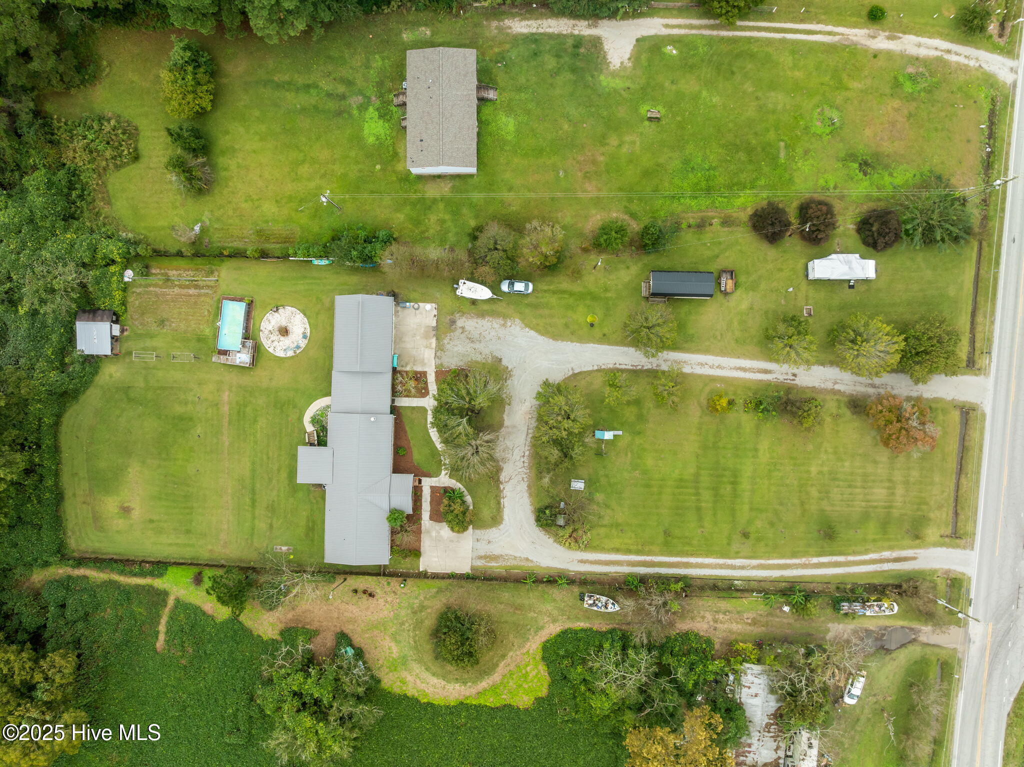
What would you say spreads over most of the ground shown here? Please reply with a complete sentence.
The scene is dominated by grass.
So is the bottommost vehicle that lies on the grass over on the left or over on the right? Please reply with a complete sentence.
You can find the bottommost vehicle that lies on the grass on the right side of the picture.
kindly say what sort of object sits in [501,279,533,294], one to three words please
car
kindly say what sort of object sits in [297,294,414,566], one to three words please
house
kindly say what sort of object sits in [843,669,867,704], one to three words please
vehicle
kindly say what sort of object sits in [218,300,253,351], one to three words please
swimming pool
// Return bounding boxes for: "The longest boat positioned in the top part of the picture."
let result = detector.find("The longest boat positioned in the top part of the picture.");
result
[453,278,501,299]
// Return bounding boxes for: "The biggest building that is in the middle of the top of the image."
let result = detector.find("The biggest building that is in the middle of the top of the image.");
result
[407,47,477,175]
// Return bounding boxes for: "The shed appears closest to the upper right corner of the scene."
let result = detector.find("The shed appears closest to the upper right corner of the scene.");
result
[649,271,715,298]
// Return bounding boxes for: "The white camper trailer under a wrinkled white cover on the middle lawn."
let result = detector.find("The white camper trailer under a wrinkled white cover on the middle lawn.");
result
[802,254,876,281]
